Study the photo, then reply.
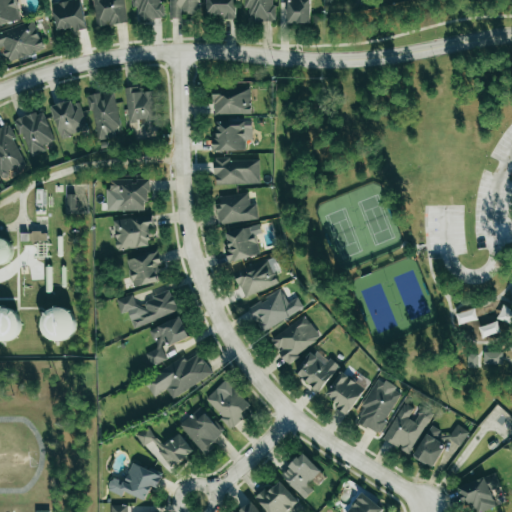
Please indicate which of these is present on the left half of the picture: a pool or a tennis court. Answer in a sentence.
It is a pool that can be seen on the left half of the picture.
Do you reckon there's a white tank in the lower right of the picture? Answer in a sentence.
No, there is no white tank in the lower right of the picture.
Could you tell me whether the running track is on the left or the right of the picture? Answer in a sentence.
The running track sits on the left side.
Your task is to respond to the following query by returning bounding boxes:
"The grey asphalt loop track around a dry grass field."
[0,417,44,494]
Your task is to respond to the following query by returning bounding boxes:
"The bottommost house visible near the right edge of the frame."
[456,479,502,512]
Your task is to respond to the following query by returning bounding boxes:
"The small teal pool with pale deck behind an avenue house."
[258,221,274,250]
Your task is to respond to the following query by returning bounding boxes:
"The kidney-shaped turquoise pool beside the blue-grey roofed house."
[106,448,129,474]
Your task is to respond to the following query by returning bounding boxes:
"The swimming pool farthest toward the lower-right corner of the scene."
[336,480,358,512]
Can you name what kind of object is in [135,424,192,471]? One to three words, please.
house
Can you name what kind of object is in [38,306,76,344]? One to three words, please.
storage tank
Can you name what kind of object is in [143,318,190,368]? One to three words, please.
house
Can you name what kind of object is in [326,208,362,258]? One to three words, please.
tennis court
